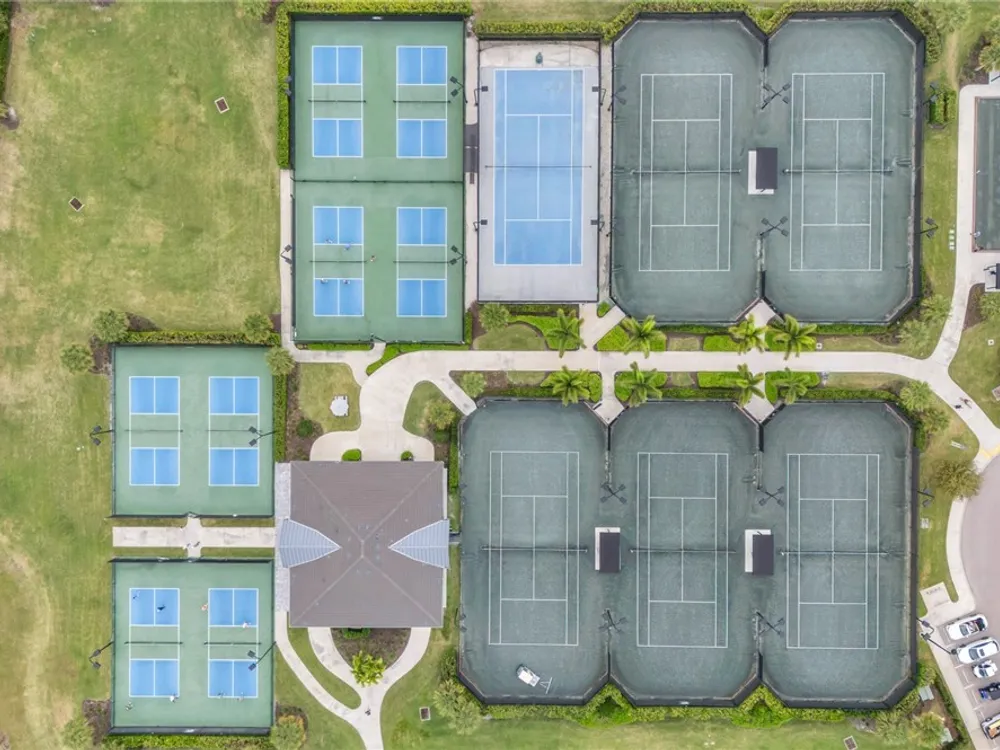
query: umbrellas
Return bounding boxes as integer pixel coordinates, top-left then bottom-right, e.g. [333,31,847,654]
[331,397,350,416]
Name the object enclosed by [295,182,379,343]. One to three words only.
sports court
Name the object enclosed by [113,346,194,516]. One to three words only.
sports court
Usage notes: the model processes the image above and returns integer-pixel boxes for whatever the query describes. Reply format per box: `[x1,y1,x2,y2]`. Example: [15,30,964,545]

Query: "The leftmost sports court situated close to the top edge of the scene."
[294,21,379,181]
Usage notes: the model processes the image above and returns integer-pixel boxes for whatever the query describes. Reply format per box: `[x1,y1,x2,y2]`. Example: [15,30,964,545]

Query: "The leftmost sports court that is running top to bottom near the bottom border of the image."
[114,559,194,728]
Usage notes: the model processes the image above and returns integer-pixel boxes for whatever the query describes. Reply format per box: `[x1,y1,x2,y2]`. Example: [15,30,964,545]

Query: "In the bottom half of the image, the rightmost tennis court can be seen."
[759,405,911,701]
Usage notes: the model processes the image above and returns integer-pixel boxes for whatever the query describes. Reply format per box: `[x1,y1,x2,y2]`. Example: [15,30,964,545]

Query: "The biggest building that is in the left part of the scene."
[279,461,451,629]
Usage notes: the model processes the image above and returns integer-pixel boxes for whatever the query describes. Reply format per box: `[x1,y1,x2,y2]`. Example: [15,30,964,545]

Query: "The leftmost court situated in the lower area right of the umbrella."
[460,403,608,697]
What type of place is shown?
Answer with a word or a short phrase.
sports ground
